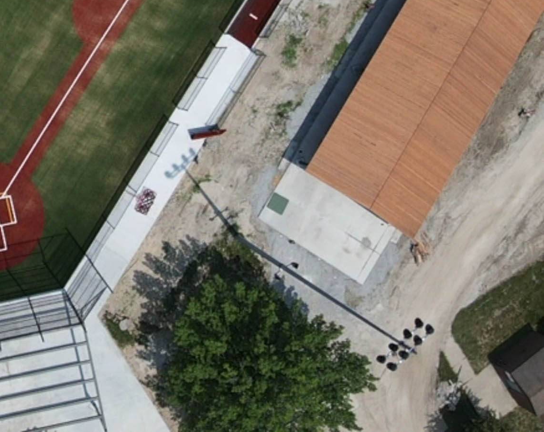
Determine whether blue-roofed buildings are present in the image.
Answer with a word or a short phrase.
No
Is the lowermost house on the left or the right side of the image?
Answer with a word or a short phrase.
right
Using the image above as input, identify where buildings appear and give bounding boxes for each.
[299,0,544,238]
[495,325,544,425]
